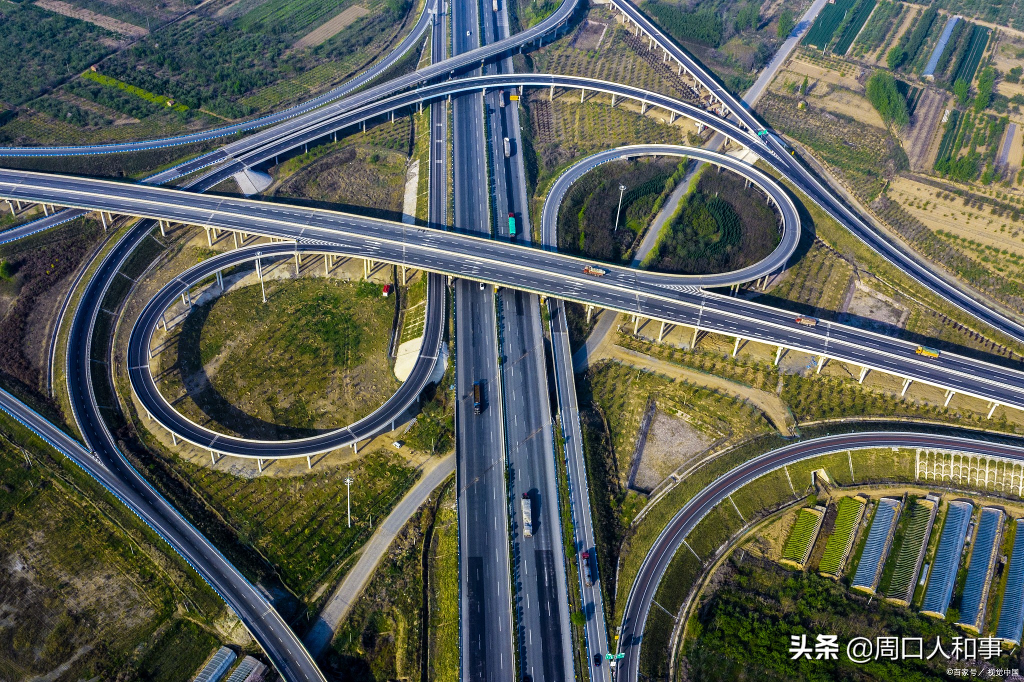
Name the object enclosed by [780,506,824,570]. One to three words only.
greenhouse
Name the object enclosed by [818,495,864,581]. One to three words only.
greenhouse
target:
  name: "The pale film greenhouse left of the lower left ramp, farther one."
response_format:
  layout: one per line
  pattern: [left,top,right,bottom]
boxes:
[195,648,237,682]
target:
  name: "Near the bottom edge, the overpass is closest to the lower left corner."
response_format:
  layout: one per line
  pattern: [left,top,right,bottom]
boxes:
[240,601,328,682]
